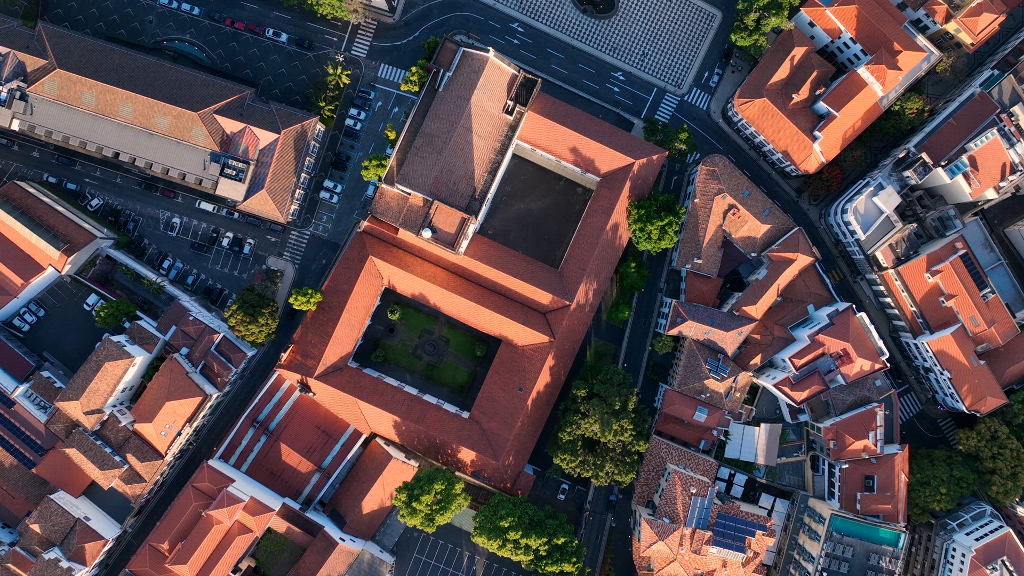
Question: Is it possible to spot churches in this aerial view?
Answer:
Yes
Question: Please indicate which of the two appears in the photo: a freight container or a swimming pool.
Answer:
swimming pool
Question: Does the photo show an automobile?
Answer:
Yes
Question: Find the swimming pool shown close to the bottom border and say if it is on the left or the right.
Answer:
right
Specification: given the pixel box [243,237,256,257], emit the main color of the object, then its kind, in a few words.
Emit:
blue vehicle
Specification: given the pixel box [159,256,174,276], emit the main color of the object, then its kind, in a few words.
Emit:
blue car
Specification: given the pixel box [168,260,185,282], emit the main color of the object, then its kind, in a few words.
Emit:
blue car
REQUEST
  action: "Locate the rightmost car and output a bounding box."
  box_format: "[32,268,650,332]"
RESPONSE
[891,364,909,386]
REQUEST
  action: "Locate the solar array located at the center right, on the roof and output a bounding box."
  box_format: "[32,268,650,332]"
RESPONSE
[960,252,987,289]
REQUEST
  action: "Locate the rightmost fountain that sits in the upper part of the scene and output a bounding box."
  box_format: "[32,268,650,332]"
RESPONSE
[568,0,621,22]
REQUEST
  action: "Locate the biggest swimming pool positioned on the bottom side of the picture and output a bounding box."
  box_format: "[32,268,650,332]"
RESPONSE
[829,516,901,548]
